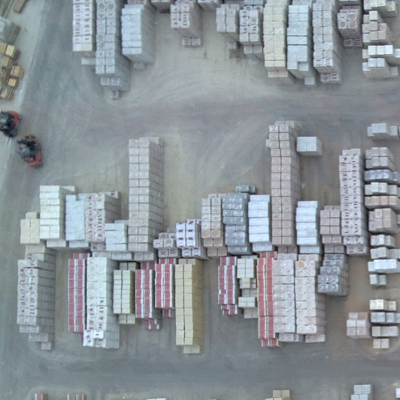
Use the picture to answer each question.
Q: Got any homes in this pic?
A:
No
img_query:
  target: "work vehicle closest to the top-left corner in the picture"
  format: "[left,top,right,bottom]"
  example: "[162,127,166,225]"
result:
[0,111,21,147]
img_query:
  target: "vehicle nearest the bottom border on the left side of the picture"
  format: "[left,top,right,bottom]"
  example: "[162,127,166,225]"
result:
[15,131,43,163]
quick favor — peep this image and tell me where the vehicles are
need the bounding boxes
[0,111,21,147]
[15,131,43,163]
